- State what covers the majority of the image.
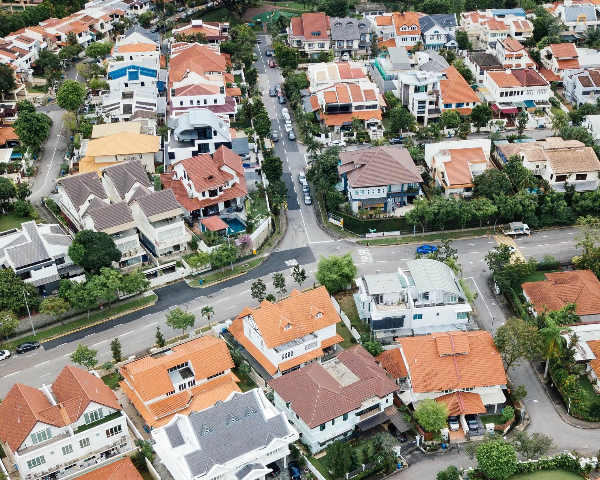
buildings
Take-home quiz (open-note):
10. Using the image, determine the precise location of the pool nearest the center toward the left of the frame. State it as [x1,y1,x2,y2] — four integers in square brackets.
[222,216,246,233]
